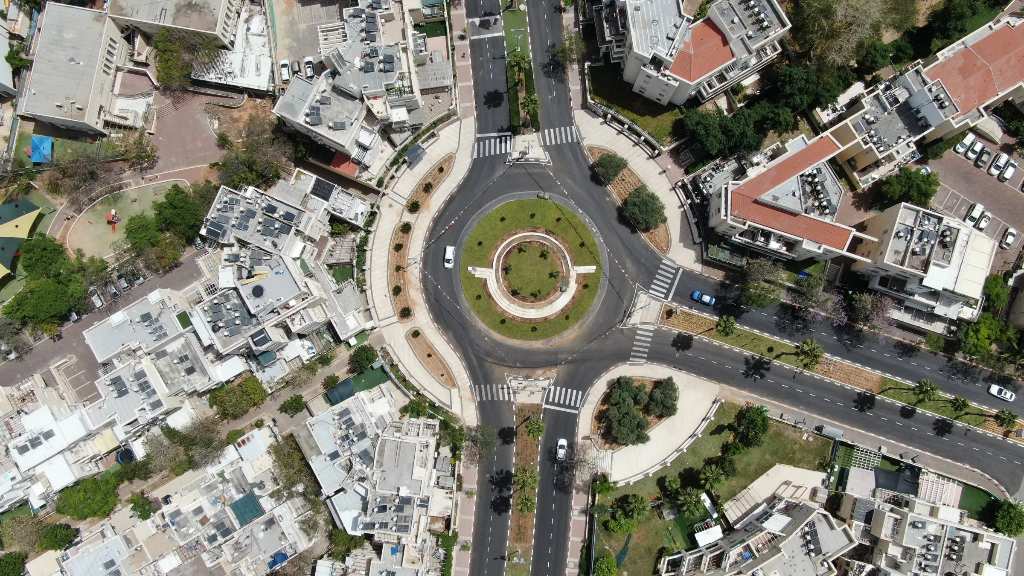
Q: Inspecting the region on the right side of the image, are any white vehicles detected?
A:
Yes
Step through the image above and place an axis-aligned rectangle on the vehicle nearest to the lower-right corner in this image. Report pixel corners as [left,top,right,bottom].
[988,385,1015,401]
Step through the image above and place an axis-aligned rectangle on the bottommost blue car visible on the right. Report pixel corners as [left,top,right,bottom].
[690,291,715,305]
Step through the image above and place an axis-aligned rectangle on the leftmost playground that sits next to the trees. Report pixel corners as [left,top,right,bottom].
[0,184,58,308]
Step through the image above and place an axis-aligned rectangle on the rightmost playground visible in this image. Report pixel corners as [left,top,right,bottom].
[68,181,192,261]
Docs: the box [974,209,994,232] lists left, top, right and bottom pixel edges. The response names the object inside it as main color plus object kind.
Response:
white car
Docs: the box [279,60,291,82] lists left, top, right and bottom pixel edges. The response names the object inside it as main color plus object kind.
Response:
white vehicle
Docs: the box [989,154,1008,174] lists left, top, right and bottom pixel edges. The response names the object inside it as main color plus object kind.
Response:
white car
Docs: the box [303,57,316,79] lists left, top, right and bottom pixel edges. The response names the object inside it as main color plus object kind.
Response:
white vehicle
